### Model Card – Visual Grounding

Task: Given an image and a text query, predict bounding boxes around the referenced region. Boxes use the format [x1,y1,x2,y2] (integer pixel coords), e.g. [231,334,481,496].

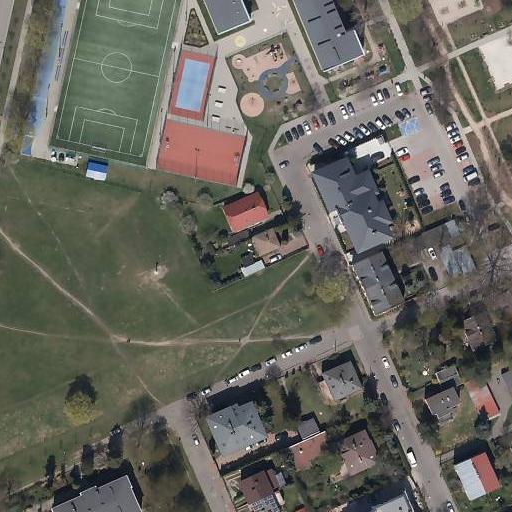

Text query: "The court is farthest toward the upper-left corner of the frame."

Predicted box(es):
[169,51,216,122]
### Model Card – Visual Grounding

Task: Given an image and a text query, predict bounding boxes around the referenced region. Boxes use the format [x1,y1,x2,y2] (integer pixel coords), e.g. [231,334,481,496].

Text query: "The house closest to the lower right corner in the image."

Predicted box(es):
[454,451,500,500]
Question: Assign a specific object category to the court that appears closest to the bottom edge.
basketball court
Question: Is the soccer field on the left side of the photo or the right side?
left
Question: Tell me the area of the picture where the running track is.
top left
